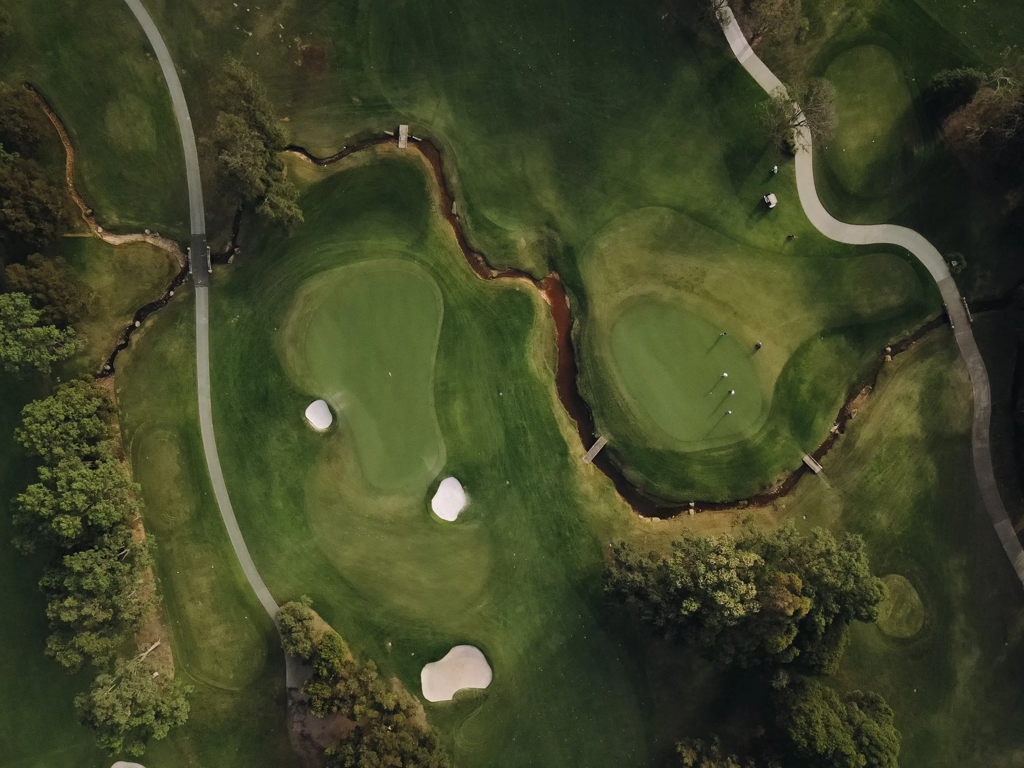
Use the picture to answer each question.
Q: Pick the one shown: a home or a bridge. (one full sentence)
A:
The image shows a bridge.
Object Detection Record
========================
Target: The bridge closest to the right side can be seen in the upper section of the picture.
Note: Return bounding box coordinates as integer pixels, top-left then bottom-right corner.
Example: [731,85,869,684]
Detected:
[938,276,976,334]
